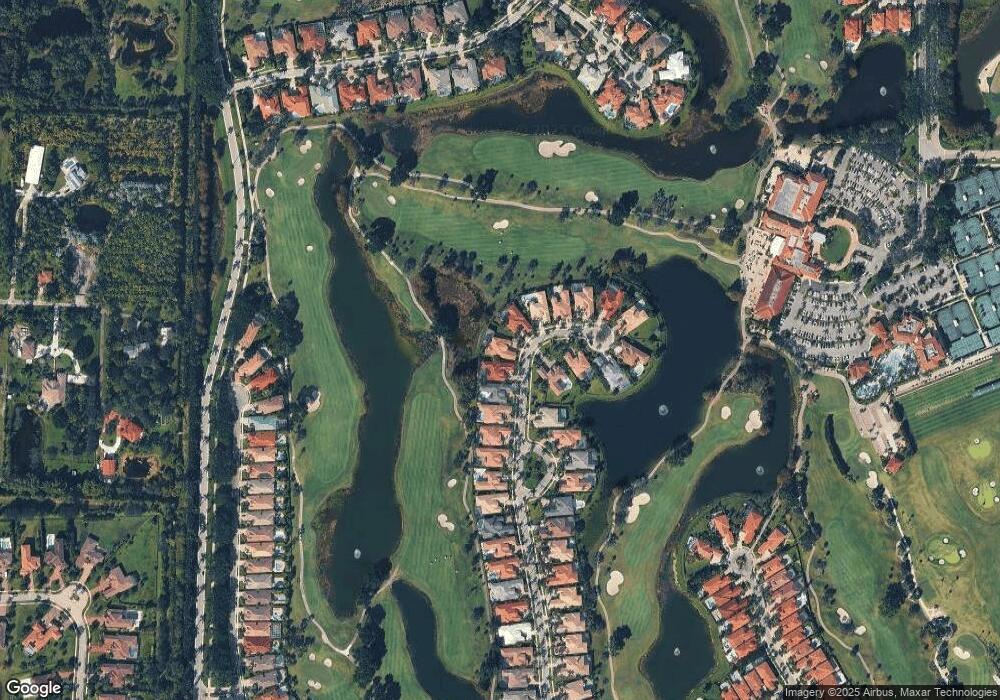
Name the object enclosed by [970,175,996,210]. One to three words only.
tennis court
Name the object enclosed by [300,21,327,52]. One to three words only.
house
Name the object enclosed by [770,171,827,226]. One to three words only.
building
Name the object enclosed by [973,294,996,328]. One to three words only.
tennis court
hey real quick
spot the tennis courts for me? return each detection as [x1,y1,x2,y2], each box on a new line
[938,308,962,340]
[985,250,1000,283]
[985,169,1000,205]
[960,259,982,292]
[973,294,996,328]
[973,255,995,288]
[952,303,975,335]
[984,211,1000,244]
[970,175,996,210]
[986,289,1000,323]
[951,223,974,255]
[954,181,980,216]
[950,334,984,357]
[964,218,986,251]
